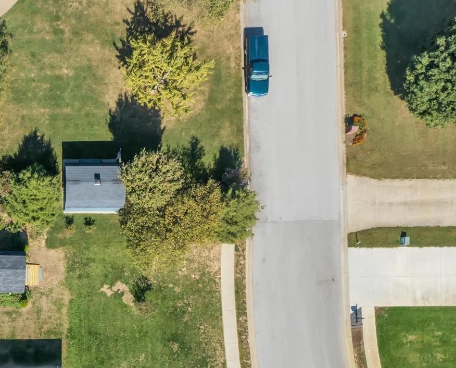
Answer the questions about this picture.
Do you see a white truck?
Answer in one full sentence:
No, no white truck can be seen from above.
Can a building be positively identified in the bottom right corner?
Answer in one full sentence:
No, in the bottom right corner there is no building.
